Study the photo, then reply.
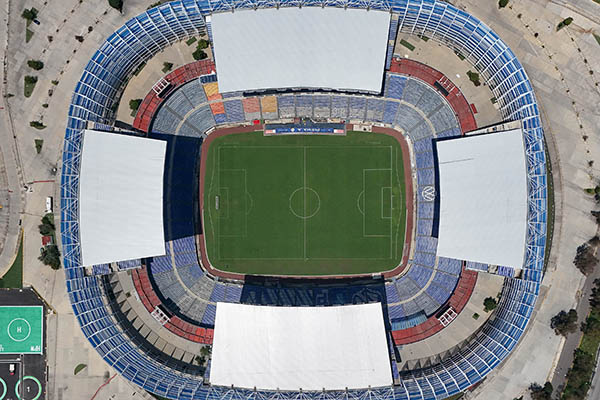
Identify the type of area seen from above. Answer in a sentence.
This image shows a sports ground.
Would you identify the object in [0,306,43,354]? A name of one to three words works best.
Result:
helipad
